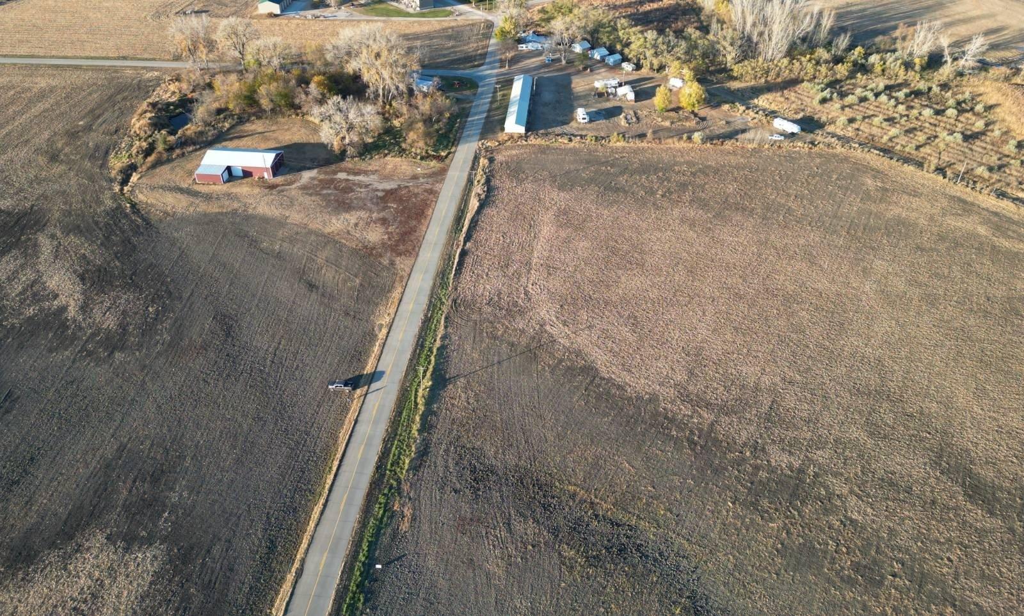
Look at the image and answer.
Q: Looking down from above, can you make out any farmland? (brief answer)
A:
Yes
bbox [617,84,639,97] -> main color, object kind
white vehicle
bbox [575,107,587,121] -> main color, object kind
white vehicle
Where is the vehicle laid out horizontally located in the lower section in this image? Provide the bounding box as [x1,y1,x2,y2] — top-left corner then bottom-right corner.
[328,380,356,392]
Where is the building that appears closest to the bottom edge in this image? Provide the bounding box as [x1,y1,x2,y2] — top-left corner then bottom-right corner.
[193,147,296,184]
